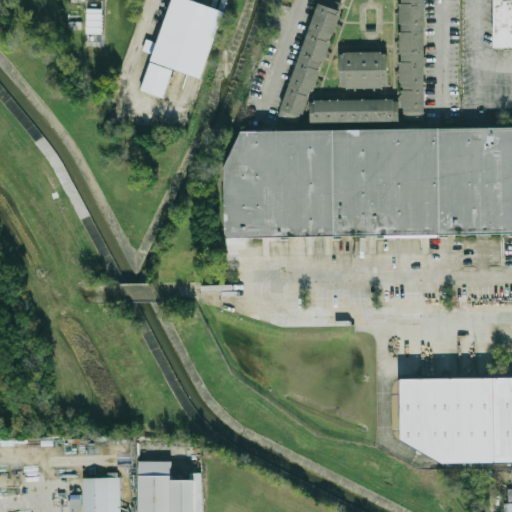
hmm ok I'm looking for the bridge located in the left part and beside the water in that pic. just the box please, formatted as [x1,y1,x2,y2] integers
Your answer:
[108,283,158,304]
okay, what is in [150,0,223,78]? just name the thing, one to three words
building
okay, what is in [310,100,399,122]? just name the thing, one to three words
building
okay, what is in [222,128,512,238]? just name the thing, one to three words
warehouse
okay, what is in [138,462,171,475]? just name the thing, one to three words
shed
